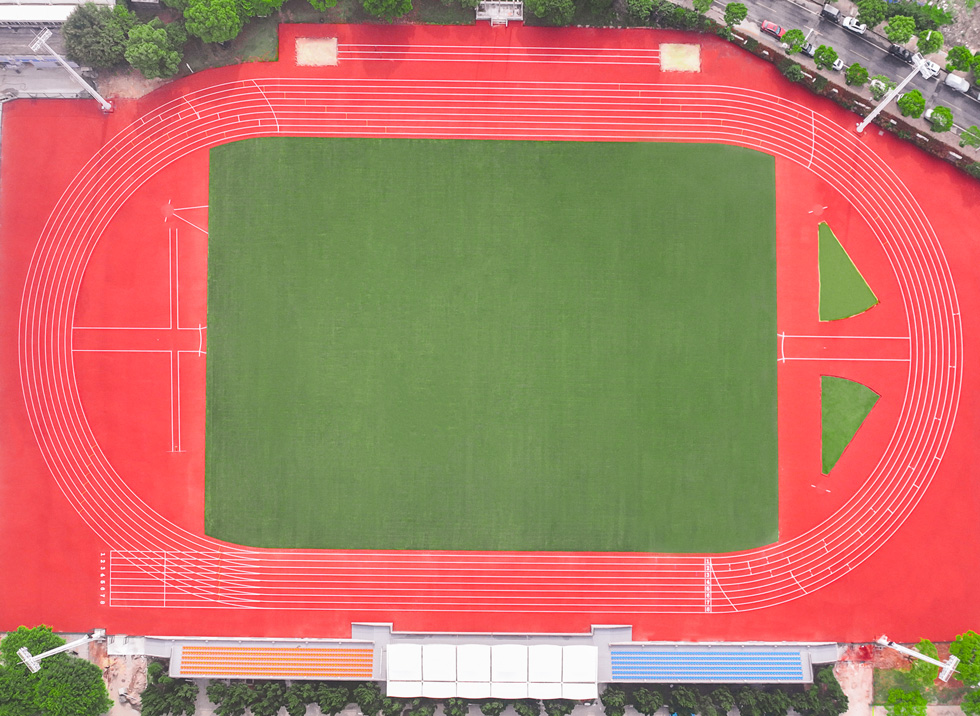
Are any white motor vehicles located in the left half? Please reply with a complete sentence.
No, no white motor vehicle appears in the left half.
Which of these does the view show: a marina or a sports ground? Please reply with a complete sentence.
It's a sports ground.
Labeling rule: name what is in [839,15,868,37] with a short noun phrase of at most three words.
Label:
car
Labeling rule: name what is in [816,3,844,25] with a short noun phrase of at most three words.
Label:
vehicle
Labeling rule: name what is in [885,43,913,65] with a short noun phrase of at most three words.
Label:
car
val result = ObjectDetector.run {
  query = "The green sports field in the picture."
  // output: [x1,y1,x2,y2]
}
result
[205,136,779,553]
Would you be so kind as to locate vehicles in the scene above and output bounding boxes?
[759,19,785,41]
[921,59,945,79]
[839,15,868,37]
[816,3,844,25]
[942,71,970,95]
[885,43,913,65]
[575,699,599,709]
[919,104,937,126]
[822,56,844,72]
[796,40,816,60]
[893,91,904,105]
